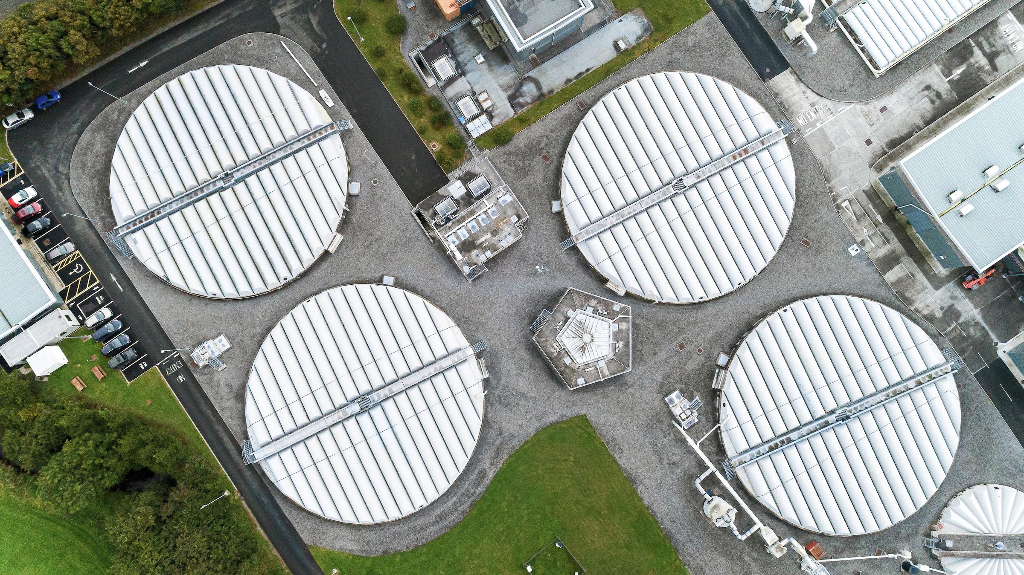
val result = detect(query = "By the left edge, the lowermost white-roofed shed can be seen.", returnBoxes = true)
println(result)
[20,345,78,381]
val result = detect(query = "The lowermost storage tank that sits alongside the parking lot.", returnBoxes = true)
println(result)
[240,275,489,526]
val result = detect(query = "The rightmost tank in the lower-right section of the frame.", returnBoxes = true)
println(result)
[921,479,1024,575]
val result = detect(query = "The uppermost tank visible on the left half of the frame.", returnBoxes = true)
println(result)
[105,59,362,302]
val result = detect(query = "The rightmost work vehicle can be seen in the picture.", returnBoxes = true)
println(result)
[959,260,1015,295]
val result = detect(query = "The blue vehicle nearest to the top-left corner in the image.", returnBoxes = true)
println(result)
[34,90,64,110]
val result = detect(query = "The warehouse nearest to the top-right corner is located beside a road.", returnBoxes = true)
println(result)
[878,81,1024,274]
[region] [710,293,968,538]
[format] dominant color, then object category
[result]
white storage tank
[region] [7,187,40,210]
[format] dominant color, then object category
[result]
white car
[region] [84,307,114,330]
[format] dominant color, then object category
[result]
white car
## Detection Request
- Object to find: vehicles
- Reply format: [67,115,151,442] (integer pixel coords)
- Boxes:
[0,161,20,183]
[100,333,132,357]
[7,187,40,210]
[21,216,53,238]
[11,202,44,225]
[93,319,124,342]
[2,108,36,129]
[34,90,64,110]
[84,307,114,330]
[959,260,1015,295]
[106,346,140,371]
[45,241,77,263]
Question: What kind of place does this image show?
industrial area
